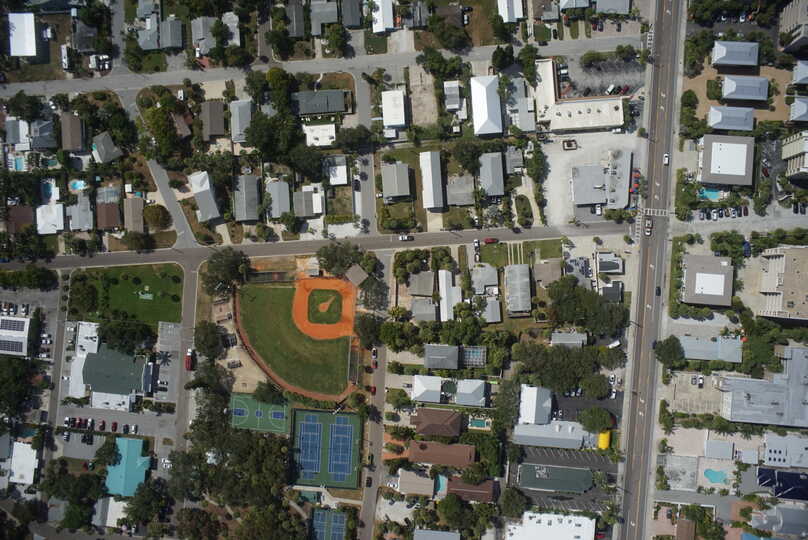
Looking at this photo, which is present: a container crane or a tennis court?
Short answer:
tennis court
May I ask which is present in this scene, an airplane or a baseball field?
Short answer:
baseball field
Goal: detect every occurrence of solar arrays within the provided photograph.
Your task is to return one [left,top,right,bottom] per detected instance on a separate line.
[0,319,26,332]
[0,340,23,352]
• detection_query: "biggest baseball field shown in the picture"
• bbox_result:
[232,278,358,400]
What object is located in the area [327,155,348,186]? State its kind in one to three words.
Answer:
house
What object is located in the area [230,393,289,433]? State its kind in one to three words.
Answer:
basketball court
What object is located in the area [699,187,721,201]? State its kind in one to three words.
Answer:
swimming pool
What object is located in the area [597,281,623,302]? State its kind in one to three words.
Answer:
building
